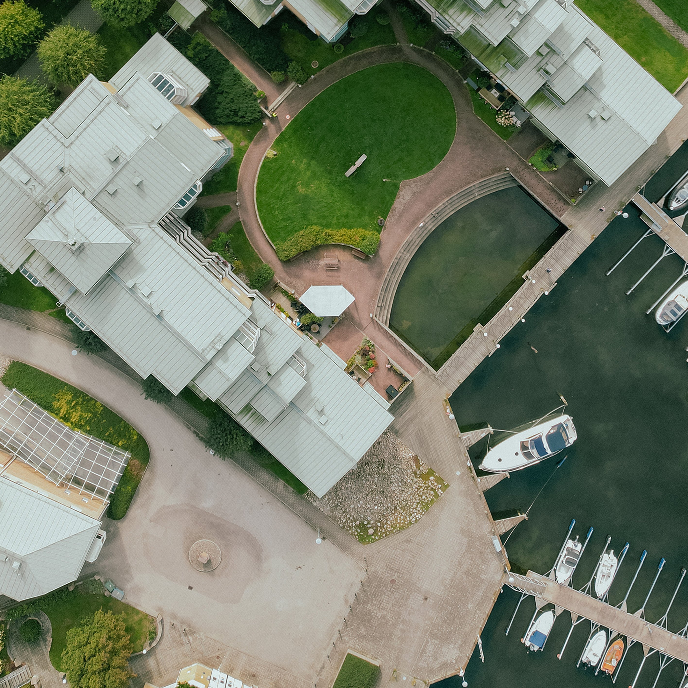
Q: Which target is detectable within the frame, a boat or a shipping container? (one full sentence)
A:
The one in the frame is a boat.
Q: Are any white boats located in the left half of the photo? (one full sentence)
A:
No, in the left half of the photo there is no white boat.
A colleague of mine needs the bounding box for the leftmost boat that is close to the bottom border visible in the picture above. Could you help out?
[525,611,555,654]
